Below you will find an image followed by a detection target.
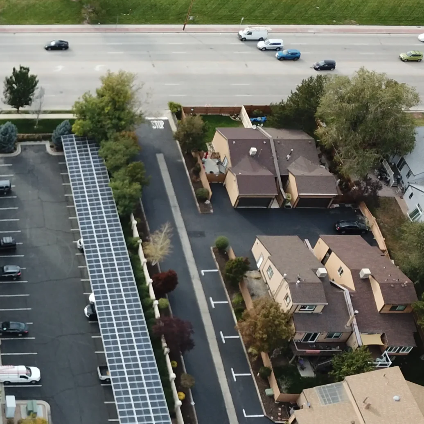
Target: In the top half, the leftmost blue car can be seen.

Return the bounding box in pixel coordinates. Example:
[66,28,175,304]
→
[274,49,302,61]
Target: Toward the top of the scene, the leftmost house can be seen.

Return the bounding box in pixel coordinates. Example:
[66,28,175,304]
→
[212,125,338,210]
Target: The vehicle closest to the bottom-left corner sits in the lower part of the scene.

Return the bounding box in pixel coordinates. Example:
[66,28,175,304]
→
[0,366,40,385]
